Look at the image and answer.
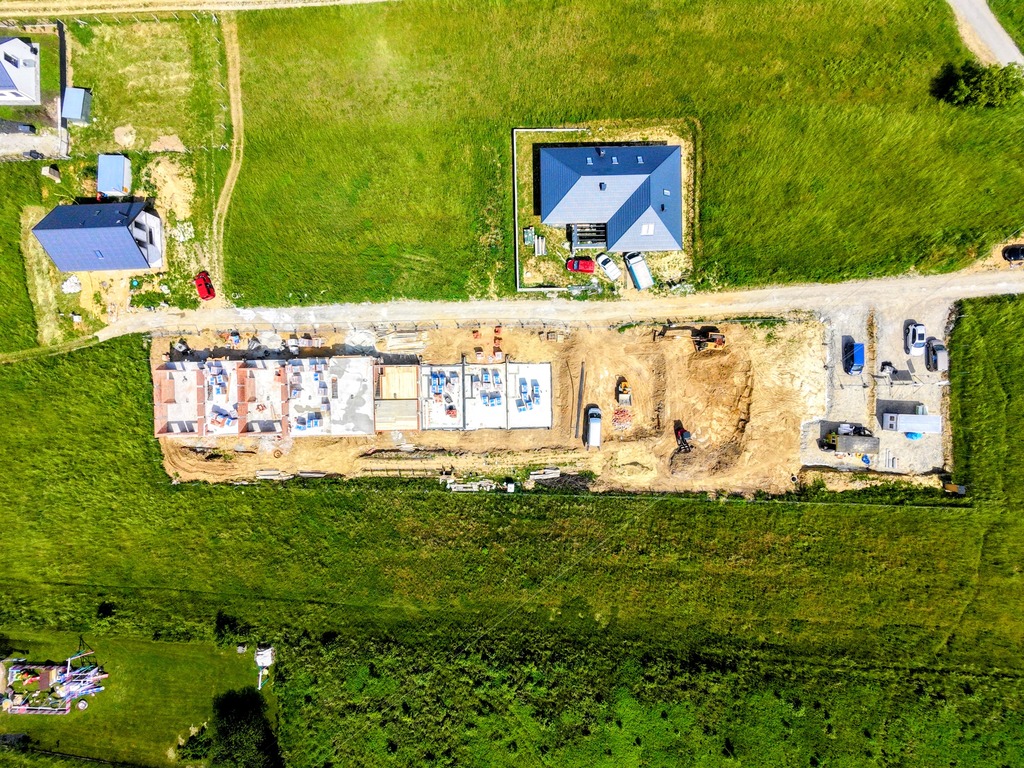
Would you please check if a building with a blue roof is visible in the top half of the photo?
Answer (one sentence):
Yes, a building with a blue roof shows up in the top half of the photo.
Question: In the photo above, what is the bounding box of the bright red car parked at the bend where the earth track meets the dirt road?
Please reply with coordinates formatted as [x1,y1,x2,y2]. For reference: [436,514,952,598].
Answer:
[197,271,218,301]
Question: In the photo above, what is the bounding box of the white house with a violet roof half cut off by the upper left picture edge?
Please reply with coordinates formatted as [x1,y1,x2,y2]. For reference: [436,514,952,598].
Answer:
[0,38,38,104]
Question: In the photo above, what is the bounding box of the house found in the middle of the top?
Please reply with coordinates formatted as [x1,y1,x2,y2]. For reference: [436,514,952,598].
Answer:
[540,145,683,253]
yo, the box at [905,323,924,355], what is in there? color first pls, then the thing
white car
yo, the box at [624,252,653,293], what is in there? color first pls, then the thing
white van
